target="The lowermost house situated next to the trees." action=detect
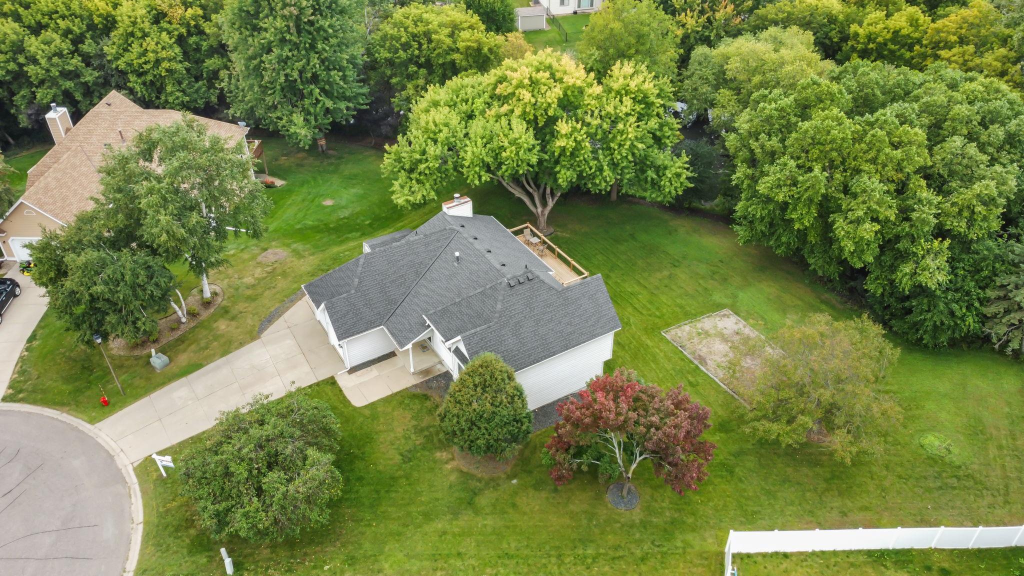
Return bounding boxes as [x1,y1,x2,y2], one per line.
[300,197,622,422]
